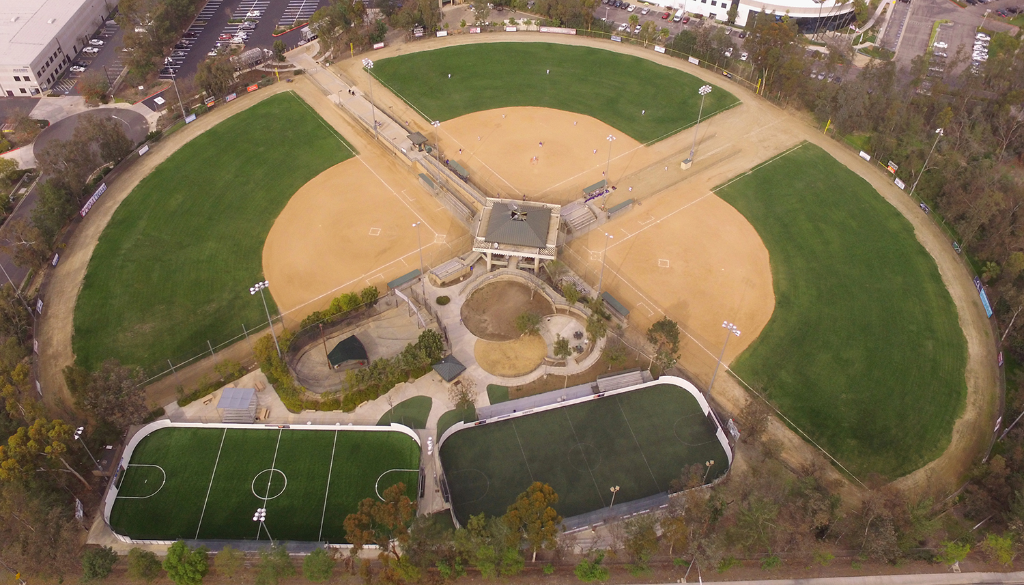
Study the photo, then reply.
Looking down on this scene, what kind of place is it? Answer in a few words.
sports ground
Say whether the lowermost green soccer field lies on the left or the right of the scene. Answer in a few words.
left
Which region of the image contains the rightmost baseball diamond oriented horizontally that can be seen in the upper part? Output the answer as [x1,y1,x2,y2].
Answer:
[365,42,741,204]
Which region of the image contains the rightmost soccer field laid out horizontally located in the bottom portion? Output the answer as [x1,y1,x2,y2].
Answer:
[440,384,731,539]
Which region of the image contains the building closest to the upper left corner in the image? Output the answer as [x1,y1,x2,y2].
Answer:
[0,0,122,97]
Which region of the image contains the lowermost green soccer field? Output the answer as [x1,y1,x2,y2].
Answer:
[109,430,421,542]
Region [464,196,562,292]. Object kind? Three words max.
building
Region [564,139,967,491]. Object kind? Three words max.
baseball field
